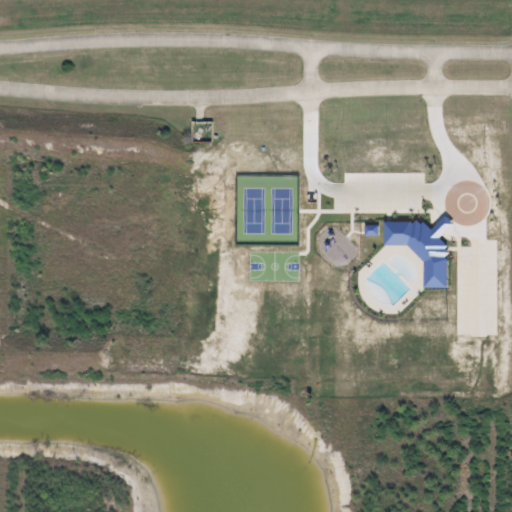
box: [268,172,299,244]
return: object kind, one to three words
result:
tennis court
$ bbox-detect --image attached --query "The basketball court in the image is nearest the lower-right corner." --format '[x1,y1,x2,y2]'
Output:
[250,252,300,282]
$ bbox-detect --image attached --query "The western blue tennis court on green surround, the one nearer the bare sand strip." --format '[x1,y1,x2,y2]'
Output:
[236,172,268,244]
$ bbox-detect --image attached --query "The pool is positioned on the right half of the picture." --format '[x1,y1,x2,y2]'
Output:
[358,245,424,315]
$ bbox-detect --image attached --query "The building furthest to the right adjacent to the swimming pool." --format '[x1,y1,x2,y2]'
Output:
[384,216,452,288]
